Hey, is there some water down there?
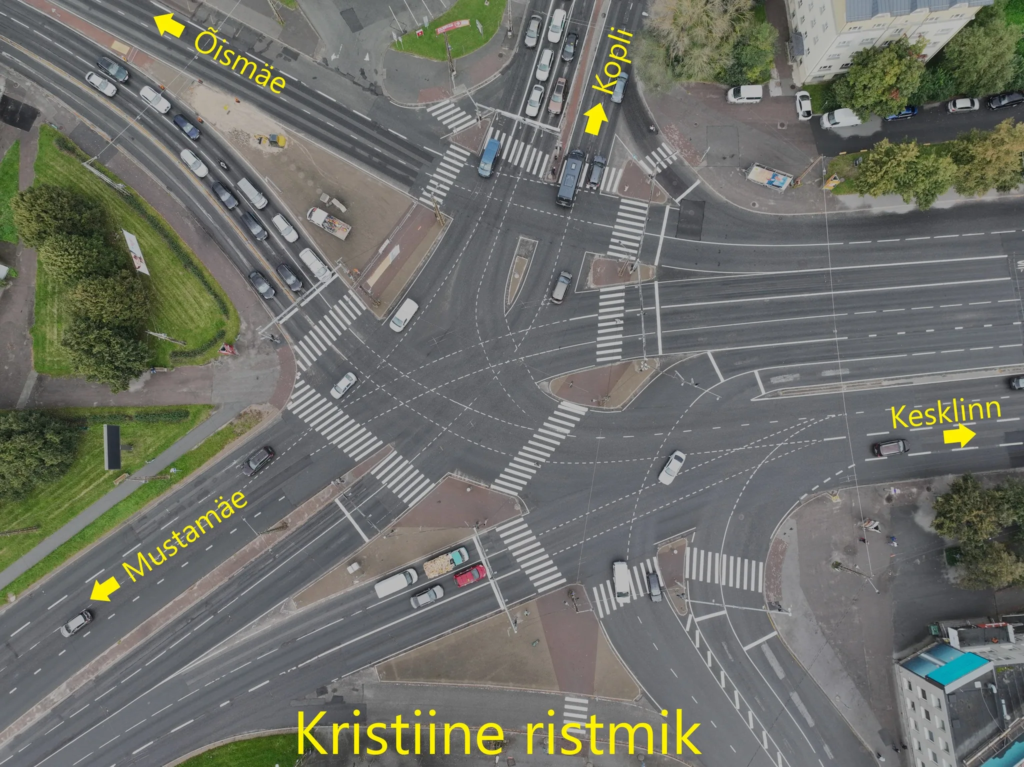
No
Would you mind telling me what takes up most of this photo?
paved ground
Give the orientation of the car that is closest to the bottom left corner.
diagonally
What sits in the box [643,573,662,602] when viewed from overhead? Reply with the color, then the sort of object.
gray car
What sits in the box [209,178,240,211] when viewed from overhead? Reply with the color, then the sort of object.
gray car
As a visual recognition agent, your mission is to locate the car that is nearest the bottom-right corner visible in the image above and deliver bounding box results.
[874,439,909,456]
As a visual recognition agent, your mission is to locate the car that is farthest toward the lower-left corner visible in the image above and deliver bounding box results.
[59,608,95,639]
